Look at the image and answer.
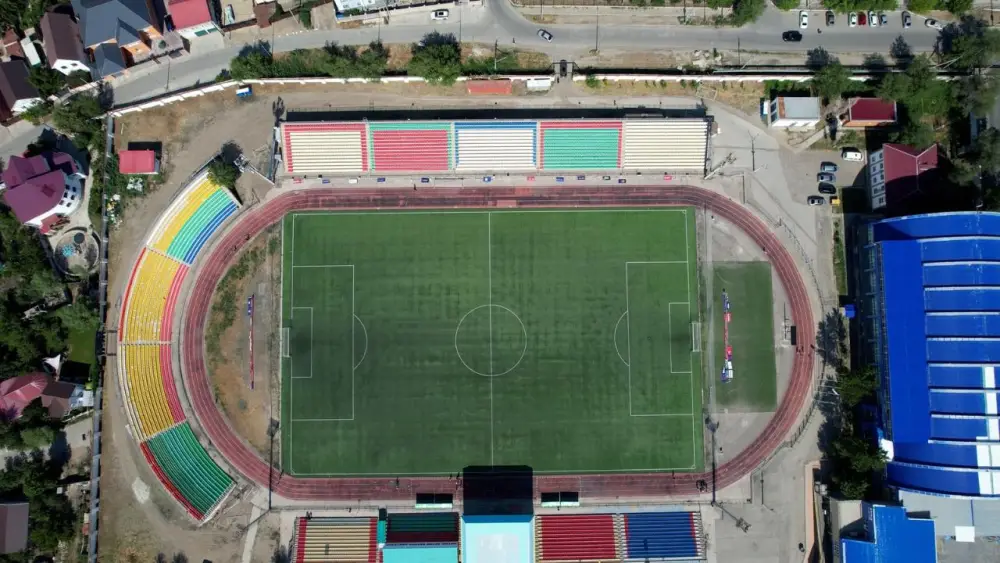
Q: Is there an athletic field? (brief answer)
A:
Yes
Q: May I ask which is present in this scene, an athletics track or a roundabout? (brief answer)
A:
athletics track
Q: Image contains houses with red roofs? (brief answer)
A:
Yes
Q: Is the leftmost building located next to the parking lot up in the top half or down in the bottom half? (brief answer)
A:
top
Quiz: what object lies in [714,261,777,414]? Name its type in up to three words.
sports field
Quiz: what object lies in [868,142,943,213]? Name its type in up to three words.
building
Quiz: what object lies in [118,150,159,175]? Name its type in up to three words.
shed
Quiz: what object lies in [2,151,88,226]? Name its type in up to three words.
house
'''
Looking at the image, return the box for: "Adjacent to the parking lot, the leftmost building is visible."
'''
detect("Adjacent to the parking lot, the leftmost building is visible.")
[771,97,820,124]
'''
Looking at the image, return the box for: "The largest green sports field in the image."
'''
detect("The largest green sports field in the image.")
[280,208,706,476]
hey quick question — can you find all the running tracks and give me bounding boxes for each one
[183,184,817,502]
